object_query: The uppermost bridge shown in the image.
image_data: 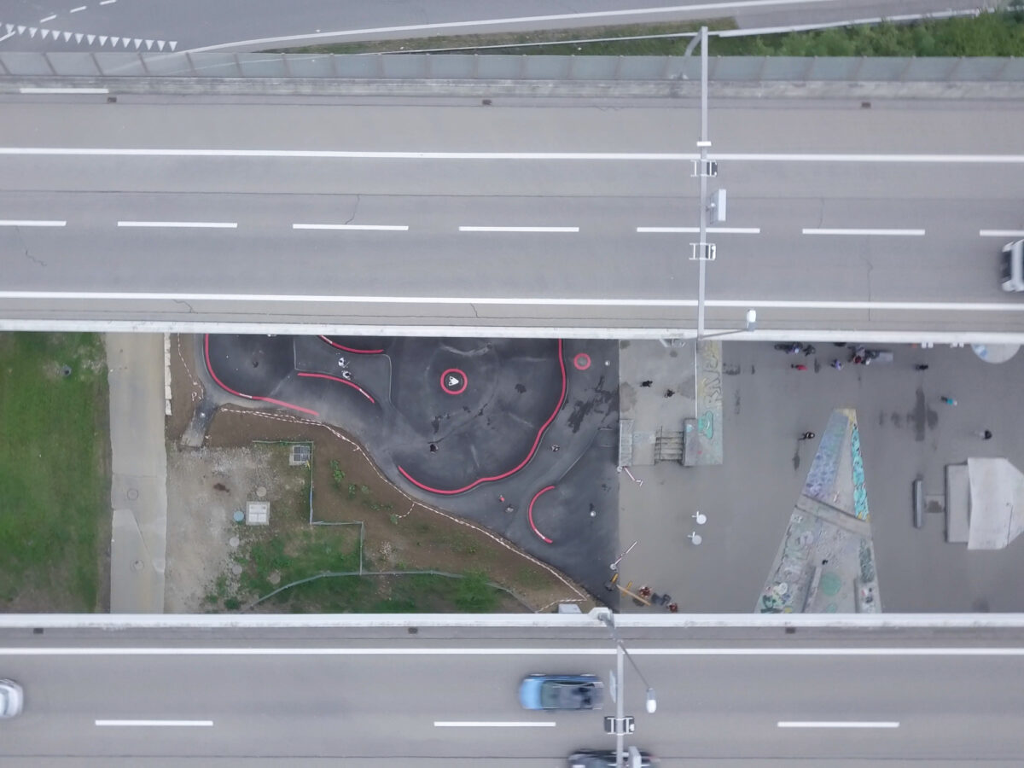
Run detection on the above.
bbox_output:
[0,77,1024,343]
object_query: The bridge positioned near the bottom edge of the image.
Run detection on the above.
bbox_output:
[0,613,1024,768]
